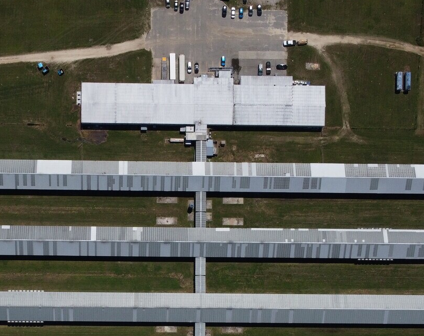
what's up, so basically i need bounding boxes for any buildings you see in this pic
[0,225,424,261]
[0,290,424,324]
[0,159,424,194]
[78,71,325,157]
